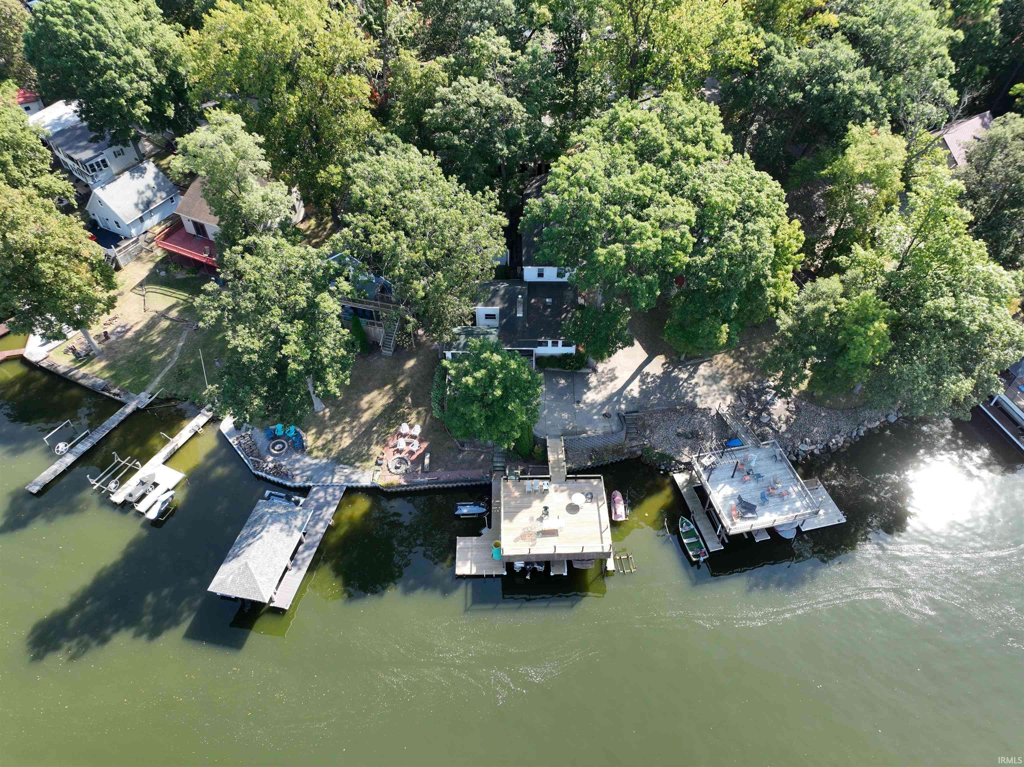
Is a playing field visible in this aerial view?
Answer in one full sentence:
No, the scene contains no playing field.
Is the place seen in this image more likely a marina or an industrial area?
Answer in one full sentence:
What you see here is a marina.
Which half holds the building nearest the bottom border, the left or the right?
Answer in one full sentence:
The building nearest the bottom border appears in the left half of the scene.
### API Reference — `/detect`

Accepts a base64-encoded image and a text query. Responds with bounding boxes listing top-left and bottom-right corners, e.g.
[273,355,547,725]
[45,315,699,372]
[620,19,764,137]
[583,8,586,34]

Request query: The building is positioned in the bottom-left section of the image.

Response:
[207,499,316,619]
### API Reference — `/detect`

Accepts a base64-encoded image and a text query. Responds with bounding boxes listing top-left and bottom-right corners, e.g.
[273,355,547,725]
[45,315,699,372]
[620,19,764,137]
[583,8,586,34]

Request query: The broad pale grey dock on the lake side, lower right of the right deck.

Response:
[797,482,854,536]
